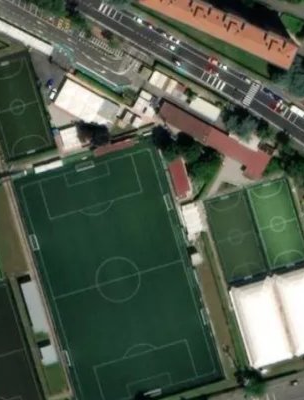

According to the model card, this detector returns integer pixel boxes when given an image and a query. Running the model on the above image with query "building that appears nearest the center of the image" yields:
[169,160,189,197]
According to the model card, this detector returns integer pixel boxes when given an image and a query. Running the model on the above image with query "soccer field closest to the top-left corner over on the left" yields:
[0,51,56,163]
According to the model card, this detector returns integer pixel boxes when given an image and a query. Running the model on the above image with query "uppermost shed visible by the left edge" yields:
[0,20,54,56]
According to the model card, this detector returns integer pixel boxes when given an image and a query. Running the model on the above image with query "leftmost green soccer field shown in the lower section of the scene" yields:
[14,145,226,400]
